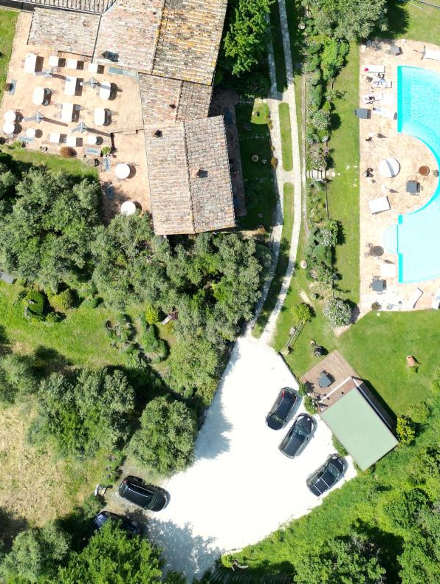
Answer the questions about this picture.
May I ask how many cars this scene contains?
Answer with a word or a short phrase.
5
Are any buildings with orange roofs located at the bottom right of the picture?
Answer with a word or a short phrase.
No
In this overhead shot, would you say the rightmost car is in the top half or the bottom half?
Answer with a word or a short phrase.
bottom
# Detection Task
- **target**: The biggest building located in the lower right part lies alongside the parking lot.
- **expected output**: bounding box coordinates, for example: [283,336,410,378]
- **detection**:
[320,380,400,469]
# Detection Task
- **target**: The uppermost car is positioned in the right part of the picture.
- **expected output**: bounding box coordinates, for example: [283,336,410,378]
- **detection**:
[264,383,302,432]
